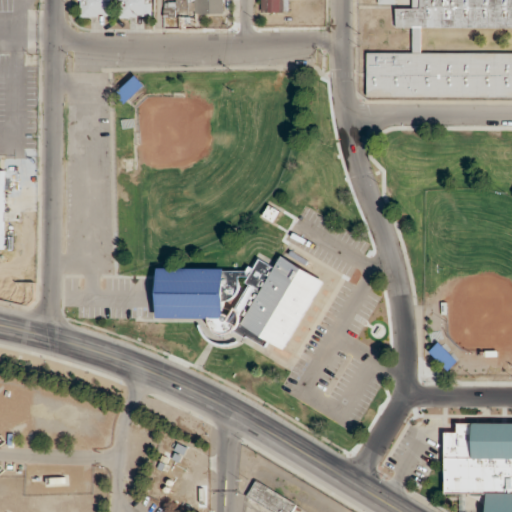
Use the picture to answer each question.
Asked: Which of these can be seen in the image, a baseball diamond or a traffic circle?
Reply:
baseball diamond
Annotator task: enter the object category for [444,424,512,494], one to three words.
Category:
building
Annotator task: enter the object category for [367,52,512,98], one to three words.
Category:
building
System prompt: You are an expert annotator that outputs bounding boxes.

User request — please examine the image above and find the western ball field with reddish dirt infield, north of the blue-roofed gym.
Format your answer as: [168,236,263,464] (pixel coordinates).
[138,74,297,256]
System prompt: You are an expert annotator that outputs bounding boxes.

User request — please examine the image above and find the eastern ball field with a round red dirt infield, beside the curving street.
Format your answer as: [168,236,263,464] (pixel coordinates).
[426,190,512,353]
